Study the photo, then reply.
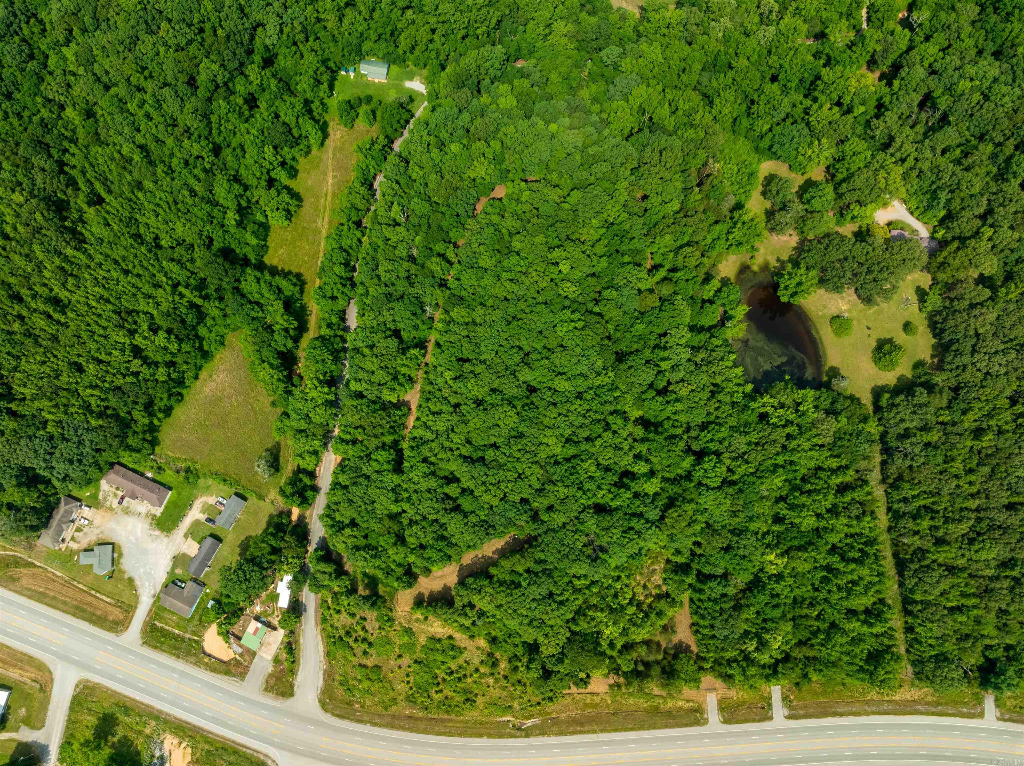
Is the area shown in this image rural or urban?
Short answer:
rural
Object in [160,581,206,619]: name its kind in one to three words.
house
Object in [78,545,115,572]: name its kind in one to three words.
house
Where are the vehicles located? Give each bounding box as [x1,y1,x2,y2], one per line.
[215,503,225,509]
[217,496,227,503]
[81,505,92,511]
[175,579,185,587]
[259,617,269,625]
[78,517,89,525]
[206,517,216,524]
[118,495,126,505]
